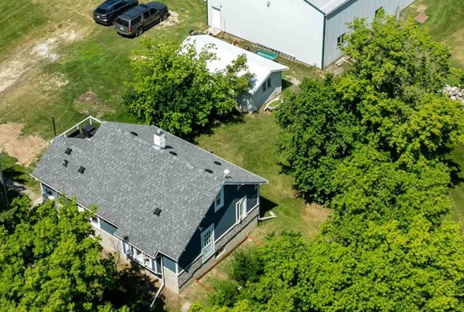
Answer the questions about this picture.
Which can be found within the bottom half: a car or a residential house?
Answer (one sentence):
There is a residential house within the bottom half.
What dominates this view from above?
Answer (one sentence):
Most of the picture is covered by trees.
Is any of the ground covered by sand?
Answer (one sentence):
No, no sand is visible.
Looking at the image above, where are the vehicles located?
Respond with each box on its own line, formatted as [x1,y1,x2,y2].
[94,0,144,27]
[117,3,174,38]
